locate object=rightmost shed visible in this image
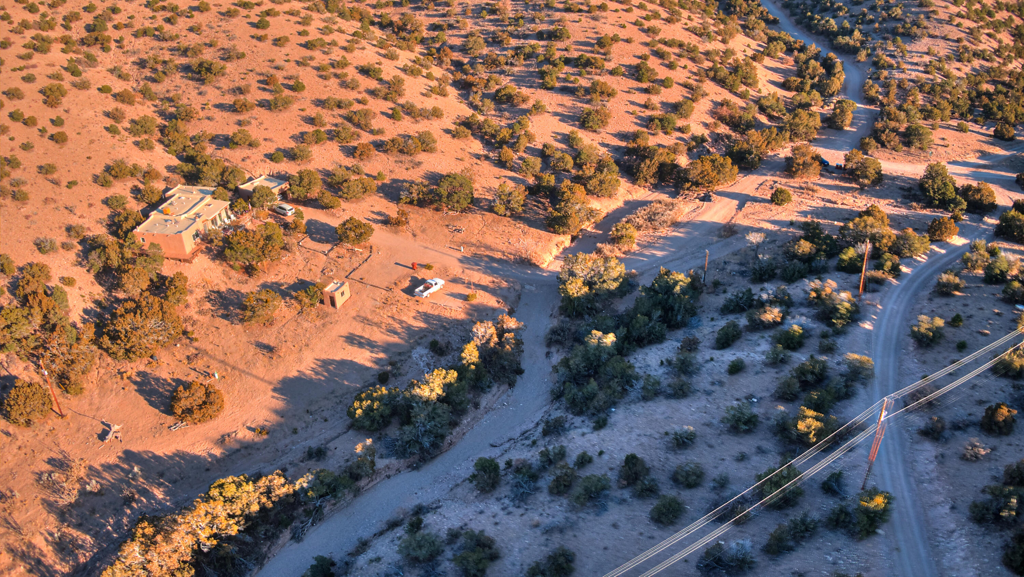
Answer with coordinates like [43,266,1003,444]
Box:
[324,281,348,308]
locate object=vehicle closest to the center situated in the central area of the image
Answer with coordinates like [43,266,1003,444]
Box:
[416,278,446,298]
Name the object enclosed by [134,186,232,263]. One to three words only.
house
